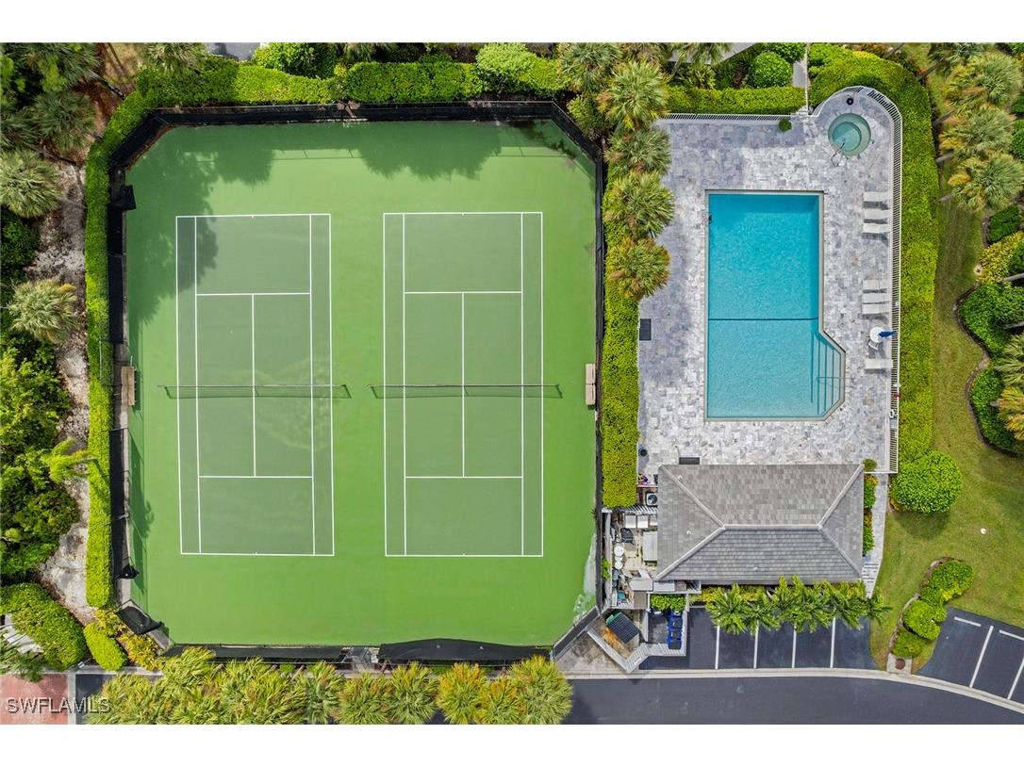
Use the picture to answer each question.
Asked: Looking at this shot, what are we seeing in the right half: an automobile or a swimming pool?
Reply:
swimming pool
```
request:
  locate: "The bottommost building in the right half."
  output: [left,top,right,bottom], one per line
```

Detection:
[655,462,867,585]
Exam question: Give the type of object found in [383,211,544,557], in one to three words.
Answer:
tennis court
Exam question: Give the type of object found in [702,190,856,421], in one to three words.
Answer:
swimming pool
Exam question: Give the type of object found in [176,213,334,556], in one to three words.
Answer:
tennis court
